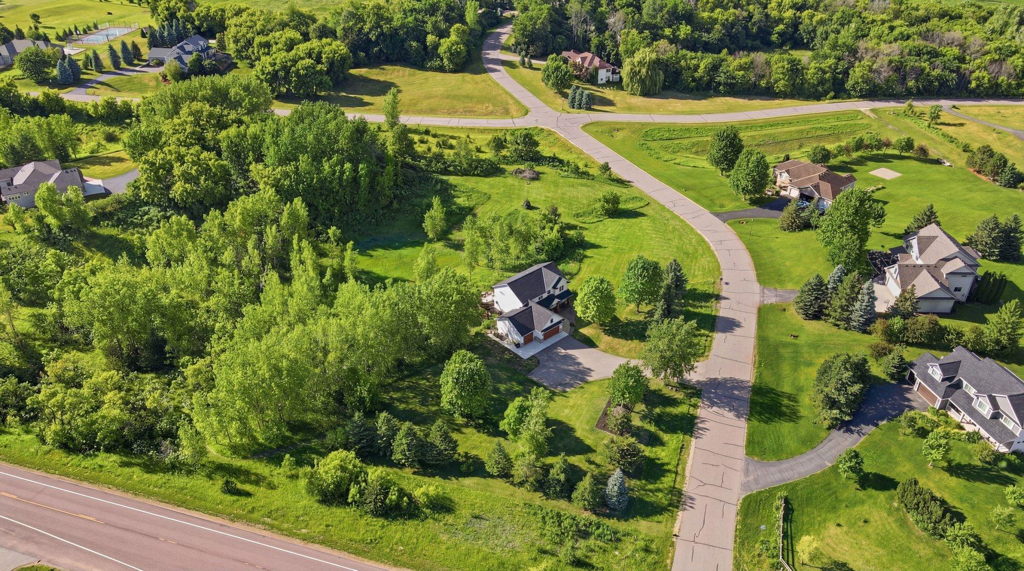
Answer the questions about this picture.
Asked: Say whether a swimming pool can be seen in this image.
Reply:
No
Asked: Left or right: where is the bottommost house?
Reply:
right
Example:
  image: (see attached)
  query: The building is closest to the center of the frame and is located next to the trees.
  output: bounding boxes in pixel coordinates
[493,262,574,346]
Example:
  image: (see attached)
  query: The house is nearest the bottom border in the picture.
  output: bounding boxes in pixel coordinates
[904,344,1024,461]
